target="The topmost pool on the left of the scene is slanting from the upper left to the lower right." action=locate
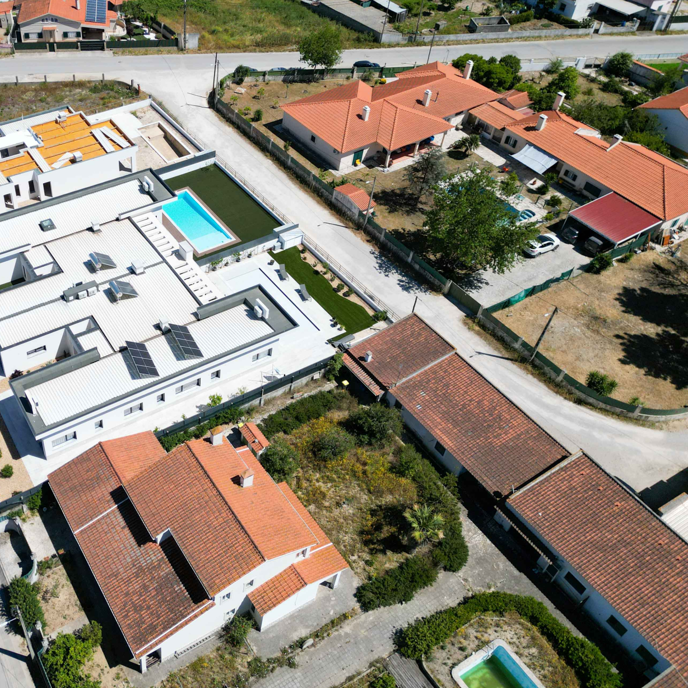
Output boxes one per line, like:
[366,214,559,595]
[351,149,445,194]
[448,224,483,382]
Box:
[137,123,190,161]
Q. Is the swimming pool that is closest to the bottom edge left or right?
right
